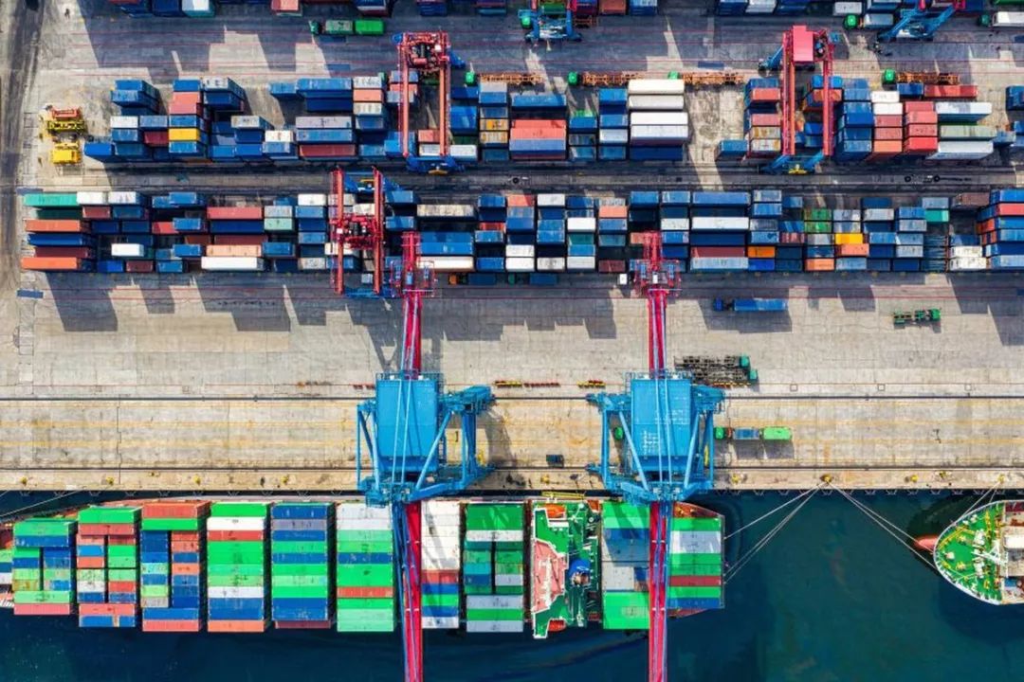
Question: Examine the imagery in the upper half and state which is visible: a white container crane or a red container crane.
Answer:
red container crane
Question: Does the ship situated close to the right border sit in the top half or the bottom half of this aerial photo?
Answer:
bottom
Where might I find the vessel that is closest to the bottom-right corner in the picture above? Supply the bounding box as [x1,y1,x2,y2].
[905,494,1024,608]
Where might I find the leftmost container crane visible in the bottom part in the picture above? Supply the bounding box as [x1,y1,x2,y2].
[349,233,507,682]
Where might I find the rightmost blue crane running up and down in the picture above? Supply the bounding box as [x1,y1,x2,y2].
[582,232,727,682]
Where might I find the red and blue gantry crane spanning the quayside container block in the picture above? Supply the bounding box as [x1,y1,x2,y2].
[329,166,413,299]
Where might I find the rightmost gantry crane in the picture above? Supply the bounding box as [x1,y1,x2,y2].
[871,0,968,49]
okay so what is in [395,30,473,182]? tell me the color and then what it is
red container crane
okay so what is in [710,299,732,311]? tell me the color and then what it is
blue vehicle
